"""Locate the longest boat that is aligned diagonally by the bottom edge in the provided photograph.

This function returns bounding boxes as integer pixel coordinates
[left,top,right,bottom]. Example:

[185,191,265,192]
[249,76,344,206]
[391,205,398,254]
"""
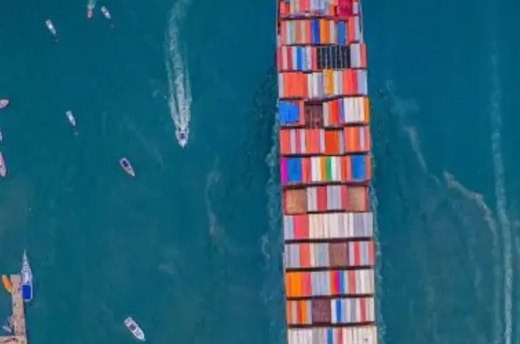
[123,315,145,341]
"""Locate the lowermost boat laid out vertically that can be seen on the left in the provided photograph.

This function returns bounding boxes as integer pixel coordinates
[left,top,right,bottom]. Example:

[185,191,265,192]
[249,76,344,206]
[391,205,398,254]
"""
[16,250,31,303]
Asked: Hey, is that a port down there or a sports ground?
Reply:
port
